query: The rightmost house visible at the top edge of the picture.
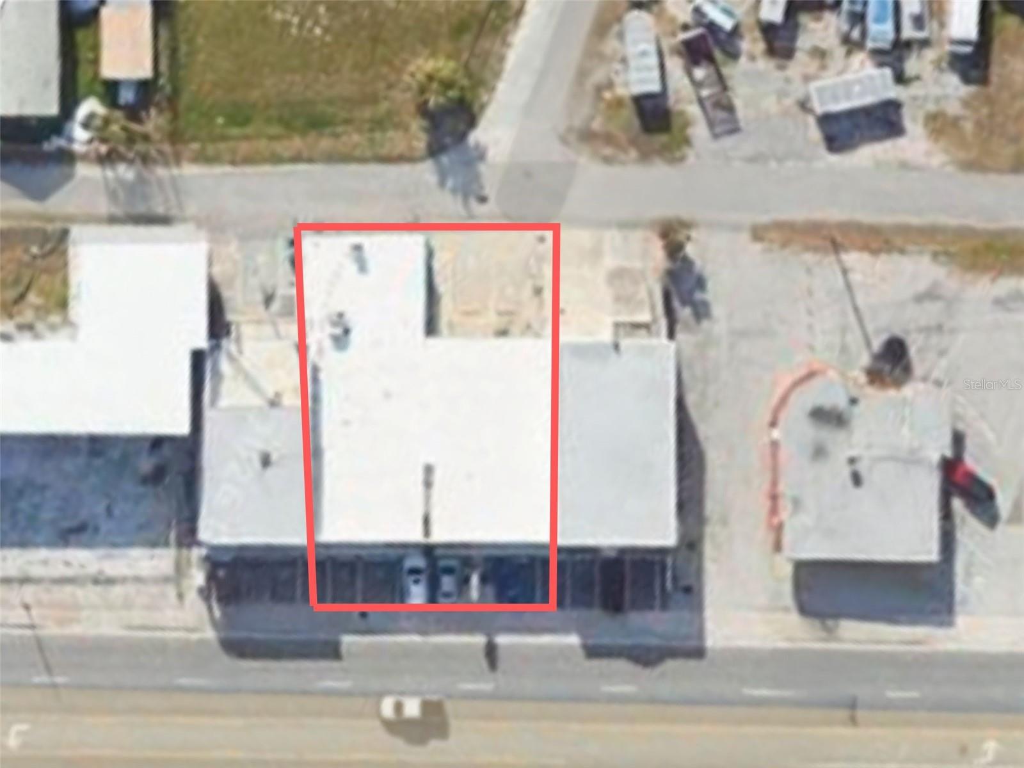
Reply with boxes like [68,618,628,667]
[100,0,153,104]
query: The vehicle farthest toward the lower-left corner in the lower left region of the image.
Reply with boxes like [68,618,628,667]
[210,554,236,606]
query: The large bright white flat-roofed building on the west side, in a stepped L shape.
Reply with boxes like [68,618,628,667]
[0,227,209,437]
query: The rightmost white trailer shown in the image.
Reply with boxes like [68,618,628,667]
[952,0,980,47]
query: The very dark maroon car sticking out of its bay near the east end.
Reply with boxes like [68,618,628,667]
[600,554,627,612]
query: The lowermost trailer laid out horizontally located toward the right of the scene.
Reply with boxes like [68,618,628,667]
[800,69,894,112]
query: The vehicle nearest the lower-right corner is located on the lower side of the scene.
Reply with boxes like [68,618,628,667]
[942,453,998,518]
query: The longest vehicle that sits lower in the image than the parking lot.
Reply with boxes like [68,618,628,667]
[380,696,445,722]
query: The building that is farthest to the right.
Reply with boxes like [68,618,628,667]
[769,363,954,564]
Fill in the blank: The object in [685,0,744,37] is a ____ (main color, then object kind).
white vehicle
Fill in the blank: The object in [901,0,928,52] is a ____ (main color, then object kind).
white trailer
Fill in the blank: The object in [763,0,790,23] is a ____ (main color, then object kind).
white camper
